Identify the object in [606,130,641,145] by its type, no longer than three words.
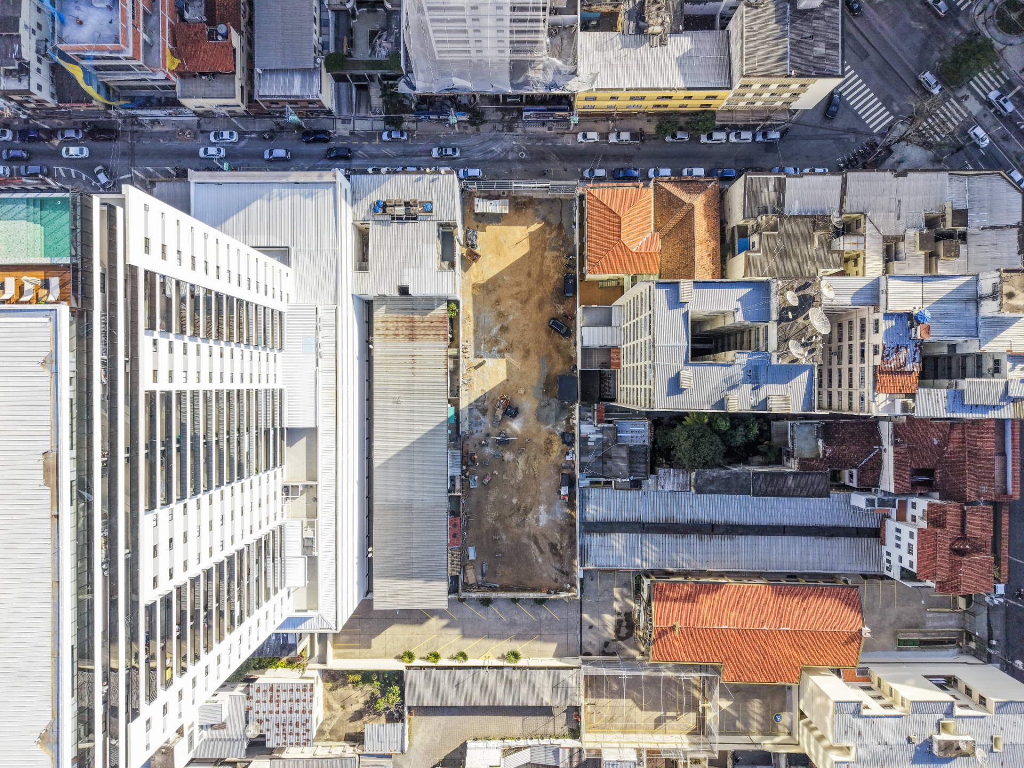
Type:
vehicle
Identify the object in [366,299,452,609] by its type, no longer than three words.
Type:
shed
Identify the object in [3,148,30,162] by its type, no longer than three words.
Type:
car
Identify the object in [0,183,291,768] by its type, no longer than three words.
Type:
building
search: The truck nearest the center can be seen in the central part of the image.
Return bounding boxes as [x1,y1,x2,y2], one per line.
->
[488,391,515,430]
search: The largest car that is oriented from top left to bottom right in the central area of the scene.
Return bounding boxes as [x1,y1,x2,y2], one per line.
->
[546,317,574,340]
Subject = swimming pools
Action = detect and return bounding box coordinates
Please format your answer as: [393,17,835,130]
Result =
[0,194,63,257]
